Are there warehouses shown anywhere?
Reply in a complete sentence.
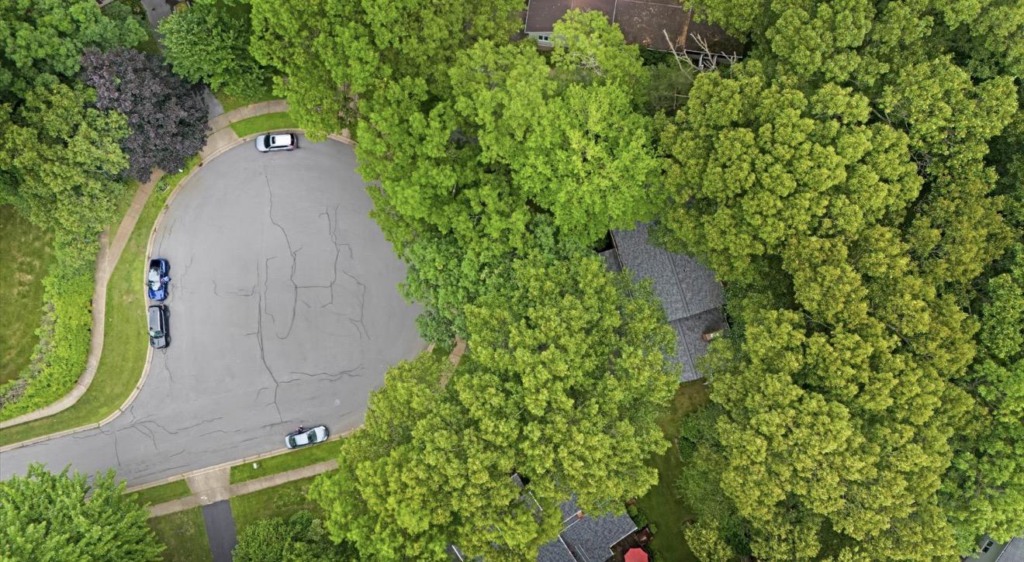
No, there is no warehouse in the image.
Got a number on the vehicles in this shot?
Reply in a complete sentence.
The photo contains 4 vehicles.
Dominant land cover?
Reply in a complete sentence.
The largest share of the image is taken up by trees.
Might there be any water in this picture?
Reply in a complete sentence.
No, the scene doesn't show any water.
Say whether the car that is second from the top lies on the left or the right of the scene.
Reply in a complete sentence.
The car that is second from the top appears in the left half of the scene.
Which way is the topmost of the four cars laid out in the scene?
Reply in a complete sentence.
The topmost of the four cars has been laid out from side to side relative to the frame.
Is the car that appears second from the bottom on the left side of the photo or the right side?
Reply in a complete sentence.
The car that appears second from the bottom appears in the left half of the scene.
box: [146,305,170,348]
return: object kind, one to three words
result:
car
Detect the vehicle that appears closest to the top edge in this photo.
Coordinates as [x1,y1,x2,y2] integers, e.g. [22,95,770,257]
[254,131,296,152]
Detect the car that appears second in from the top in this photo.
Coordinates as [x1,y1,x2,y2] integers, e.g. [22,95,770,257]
[145,258,168,300]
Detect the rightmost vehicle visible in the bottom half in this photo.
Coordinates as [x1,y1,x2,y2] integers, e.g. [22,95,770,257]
[283,426,328,450]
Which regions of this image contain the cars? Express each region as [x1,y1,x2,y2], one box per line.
[145,258,168,300]
[254,131,296,152]
[146,305,170,348]
[283,426,328,450]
